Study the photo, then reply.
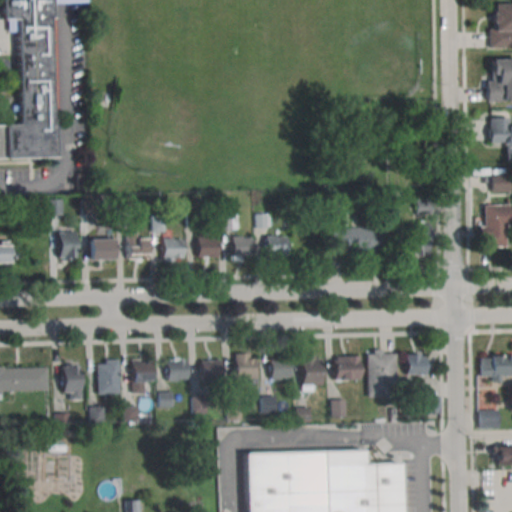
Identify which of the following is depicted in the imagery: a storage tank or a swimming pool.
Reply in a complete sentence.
The image shows a swimming pool.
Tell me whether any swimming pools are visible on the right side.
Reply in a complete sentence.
No, there's no swimming pool to be seen on the right side.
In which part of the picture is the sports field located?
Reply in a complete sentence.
The sports field sits in the top section of the image.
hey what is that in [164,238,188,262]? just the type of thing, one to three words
house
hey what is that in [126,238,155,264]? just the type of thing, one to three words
house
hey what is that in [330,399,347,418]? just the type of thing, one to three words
building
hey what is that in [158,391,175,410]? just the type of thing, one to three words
building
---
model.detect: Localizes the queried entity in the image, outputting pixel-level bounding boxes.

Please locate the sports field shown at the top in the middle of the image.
[91,0,434,192]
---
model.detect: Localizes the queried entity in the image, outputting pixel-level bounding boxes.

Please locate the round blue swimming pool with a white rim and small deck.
[98,478,122,501]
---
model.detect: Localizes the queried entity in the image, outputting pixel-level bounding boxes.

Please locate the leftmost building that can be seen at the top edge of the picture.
[0,0,90,158]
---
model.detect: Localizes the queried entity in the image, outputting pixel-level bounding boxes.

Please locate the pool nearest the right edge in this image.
[138,396,154,413]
